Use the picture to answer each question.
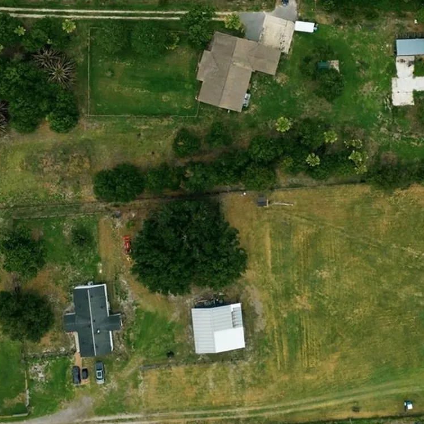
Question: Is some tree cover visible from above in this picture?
Yes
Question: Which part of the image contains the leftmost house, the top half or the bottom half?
bottom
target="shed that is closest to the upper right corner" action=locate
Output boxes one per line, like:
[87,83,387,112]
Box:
[394,34,424,56]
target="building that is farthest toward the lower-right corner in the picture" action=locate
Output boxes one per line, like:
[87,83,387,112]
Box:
[191,300,245,353]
